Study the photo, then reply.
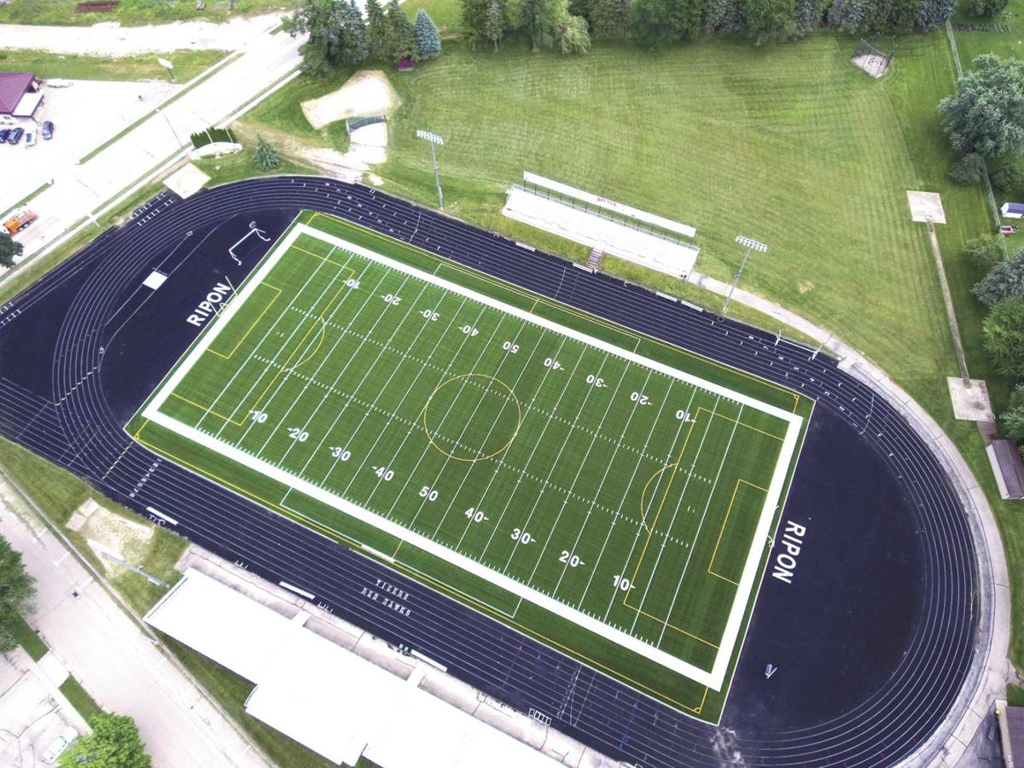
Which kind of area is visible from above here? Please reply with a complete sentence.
What you see here is a sports ground.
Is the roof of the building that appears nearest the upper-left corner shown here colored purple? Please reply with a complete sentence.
Yes, the roof of the building that appears nearest the upper-left corner is purple.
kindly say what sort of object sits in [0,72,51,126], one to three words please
building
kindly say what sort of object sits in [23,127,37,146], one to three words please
car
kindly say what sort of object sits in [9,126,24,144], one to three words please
car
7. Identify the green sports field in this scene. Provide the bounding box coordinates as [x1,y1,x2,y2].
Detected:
[122,208,816,724]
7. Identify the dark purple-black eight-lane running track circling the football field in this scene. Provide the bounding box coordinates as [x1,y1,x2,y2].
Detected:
[0,176,981,768]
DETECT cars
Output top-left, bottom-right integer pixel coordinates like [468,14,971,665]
[23,127,37,146]
[41,726,77,764]
[42,121,54,138]
[9,126,24,144]
[0,127,11,143]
